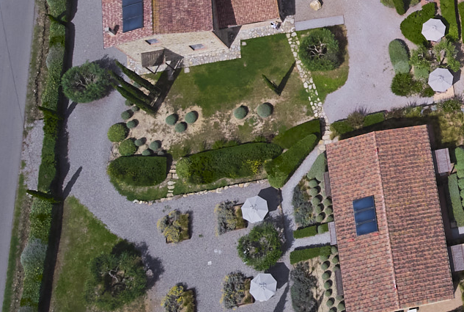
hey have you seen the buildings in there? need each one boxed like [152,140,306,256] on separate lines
[101,0,282,57]
[325,125,455,312]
